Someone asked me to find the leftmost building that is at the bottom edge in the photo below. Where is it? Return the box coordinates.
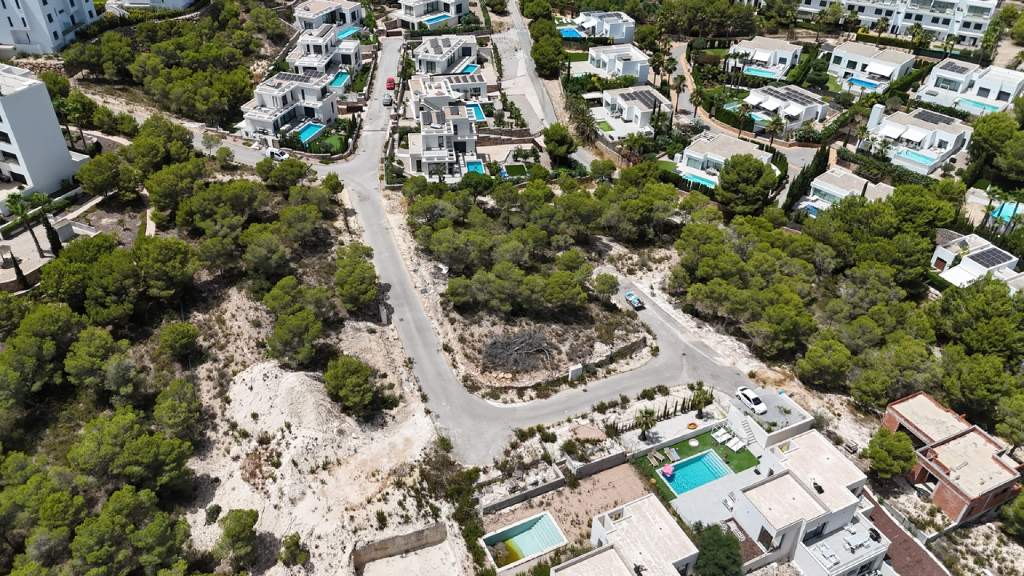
[553,494,698,576]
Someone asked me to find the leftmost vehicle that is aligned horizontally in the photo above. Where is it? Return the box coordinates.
[257,144,288,162]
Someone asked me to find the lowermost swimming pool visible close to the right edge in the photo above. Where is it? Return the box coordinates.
[987,202,1024,222]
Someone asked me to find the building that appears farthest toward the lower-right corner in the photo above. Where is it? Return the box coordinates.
[882,391,1024,531]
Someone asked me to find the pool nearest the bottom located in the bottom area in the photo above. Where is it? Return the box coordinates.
[482,511,568,575]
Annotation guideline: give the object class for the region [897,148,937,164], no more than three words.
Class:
swimming pool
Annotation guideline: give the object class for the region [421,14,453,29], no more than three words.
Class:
swimming pool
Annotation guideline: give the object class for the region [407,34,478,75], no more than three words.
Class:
house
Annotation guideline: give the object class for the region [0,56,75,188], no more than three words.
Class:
building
